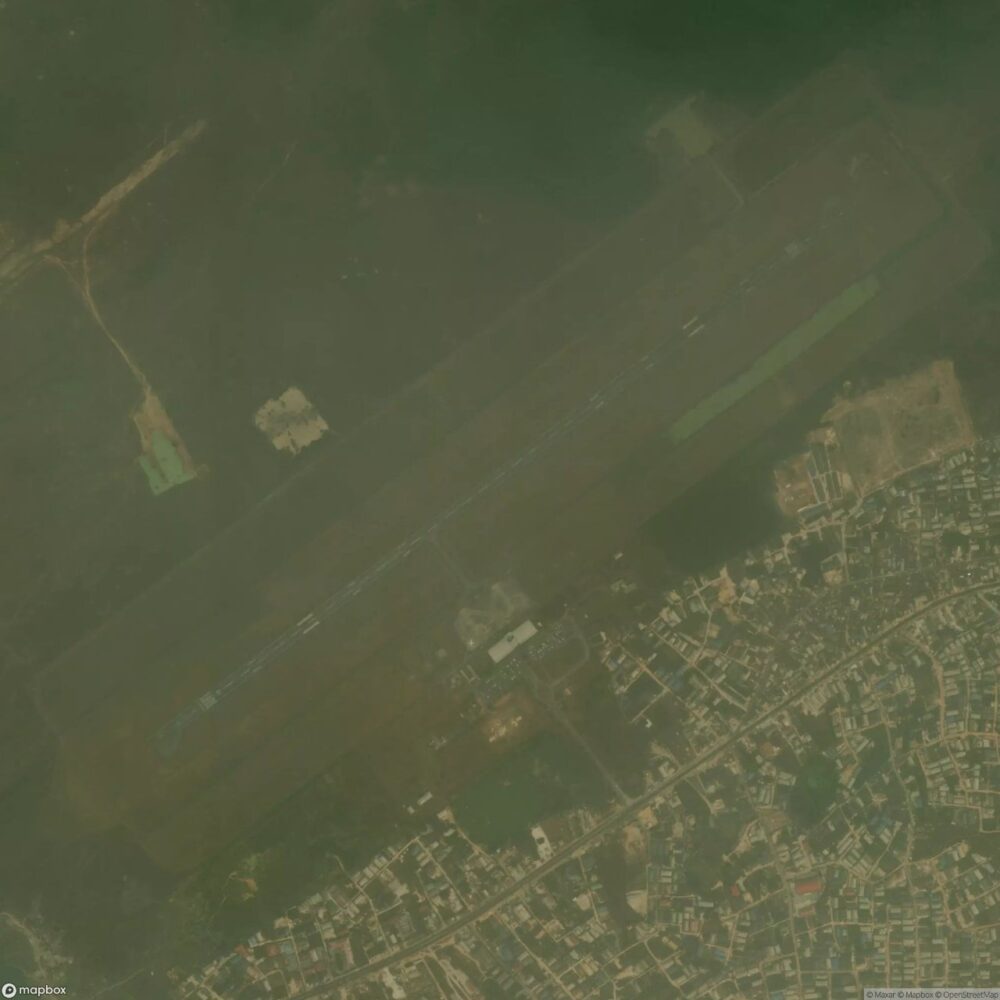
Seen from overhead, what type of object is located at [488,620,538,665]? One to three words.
building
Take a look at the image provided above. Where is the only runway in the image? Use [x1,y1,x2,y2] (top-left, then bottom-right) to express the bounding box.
[156,206,846,742]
